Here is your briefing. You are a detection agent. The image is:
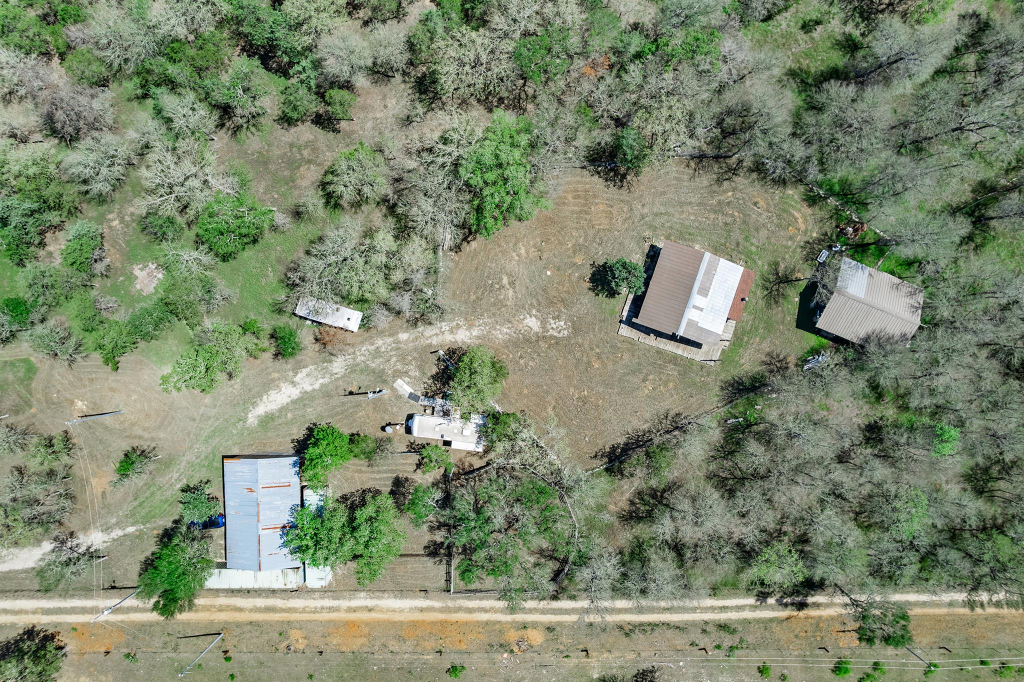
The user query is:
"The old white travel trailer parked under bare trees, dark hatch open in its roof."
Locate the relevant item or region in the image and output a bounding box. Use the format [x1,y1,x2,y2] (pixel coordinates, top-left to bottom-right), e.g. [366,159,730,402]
[295,297,367,331]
